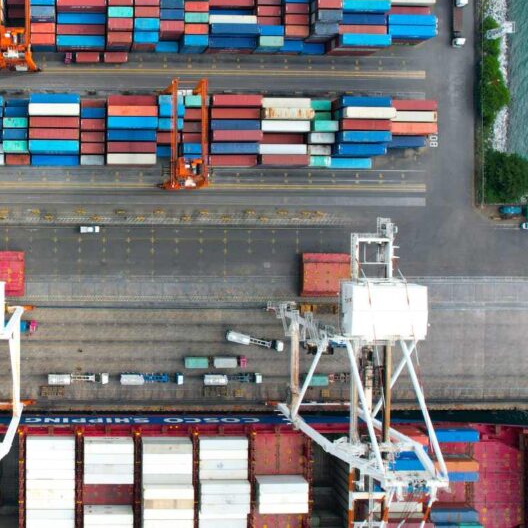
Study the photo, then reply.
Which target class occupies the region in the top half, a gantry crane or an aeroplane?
gantry crane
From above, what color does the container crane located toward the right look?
white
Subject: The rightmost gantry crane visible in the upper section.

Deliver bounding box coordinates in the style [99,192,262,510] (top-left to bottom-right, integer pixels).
[149,81,206,195]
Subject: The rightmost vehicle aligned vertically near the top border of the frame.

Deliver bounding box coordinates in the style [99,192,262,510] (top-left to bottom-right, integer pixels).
[451,0,466,47]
